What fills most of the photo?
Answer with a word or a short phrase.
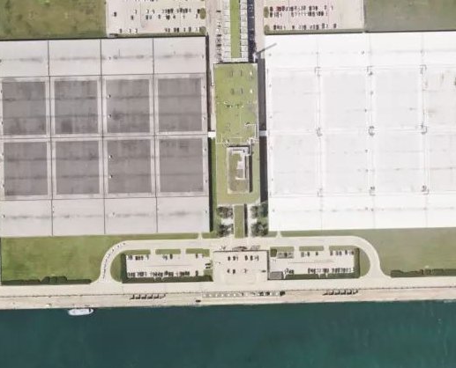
buildings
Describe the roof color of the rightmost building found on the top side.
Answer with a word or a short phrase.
white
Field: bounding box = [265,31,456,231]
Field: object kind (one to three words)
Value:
building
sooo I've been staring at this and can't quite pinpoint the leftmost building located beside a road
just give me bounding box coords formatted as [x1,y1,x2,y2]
[0,36,210,237]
